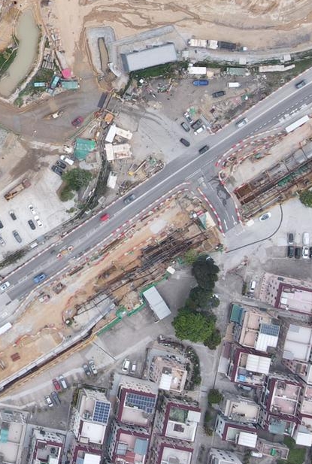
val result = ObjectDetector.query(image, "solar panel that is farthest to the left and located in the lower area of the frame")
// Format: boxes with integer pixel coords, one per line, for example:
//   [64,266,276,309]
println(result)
[93,398,114,429]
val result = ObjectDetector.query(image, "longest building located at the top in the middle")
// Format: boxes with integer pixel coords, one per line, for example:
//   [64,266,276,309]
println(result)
[118,43,177,72]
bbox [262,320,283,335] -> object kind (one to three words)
solar panel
